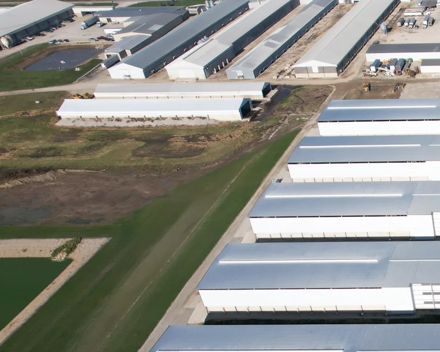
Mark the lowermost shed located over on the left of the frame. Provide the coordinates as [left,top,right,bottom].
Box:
[55,99,254,119]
